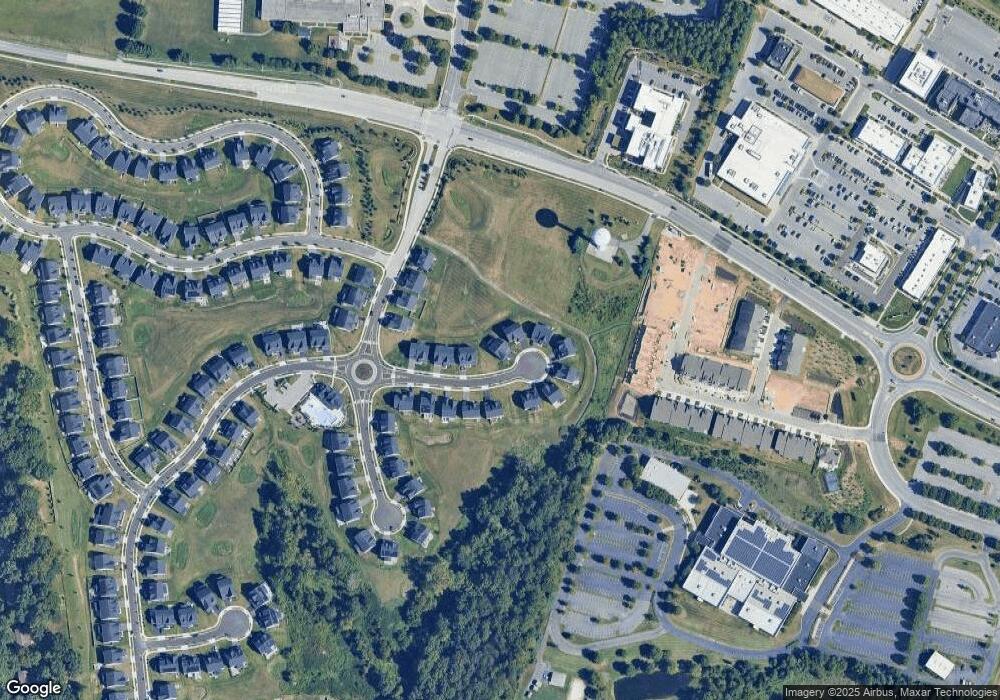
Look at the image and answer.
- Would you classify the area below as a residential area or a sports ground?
residential area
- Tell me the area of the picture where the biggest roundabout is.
right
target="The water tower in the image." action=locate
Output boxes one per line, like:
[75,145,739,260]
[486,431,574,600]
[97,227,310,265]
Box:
[592,228,610,253]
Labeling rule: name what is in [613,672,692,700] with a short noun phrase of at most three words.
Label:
pond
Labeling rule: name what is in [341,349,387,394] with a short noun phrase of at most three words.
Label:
roundabout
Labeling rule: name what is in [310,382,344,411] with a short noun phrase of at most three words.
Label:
building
